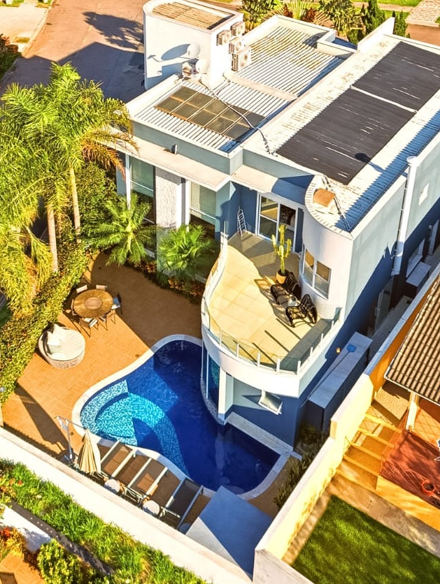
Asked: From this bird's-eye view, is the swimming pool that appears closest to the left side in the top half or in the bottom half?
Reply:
bottom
